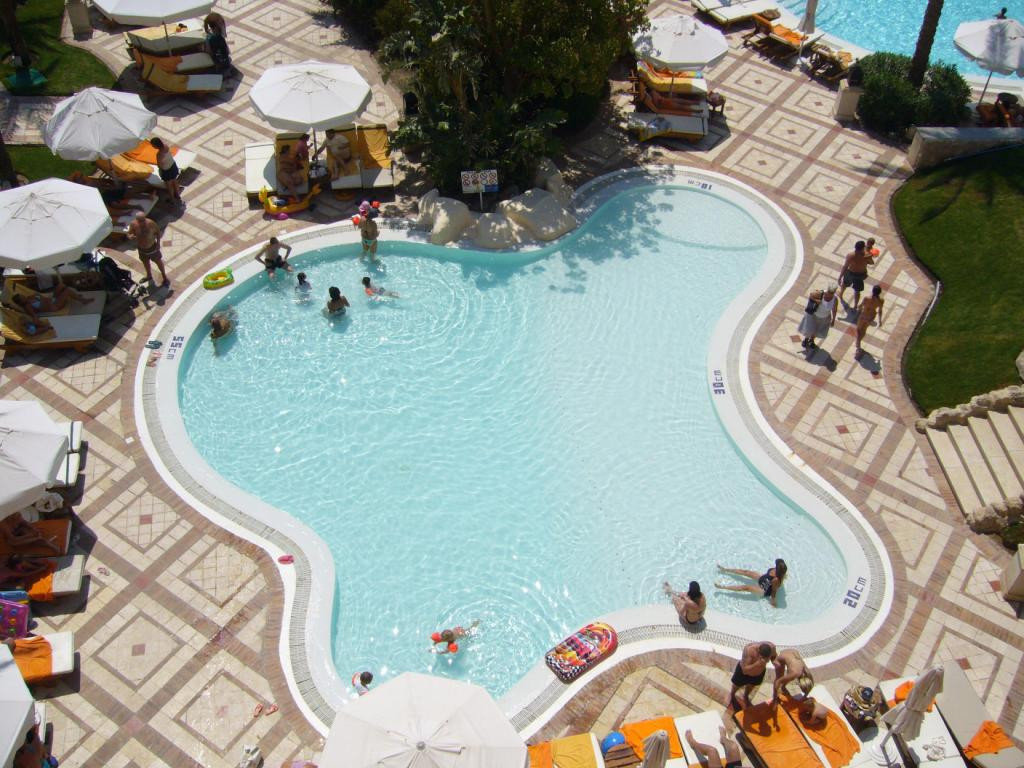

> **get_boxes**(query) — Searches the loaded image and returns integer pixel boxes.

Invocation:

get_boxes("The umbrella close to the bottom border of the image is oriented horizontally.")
[317,666,527,768]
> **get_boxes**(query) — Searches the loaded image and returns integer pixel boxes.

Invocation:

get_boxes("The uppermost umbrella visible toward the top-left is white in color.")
[107,0,219,59]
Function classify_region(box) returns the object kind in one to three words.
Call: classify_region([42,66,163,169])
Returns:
umbrella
